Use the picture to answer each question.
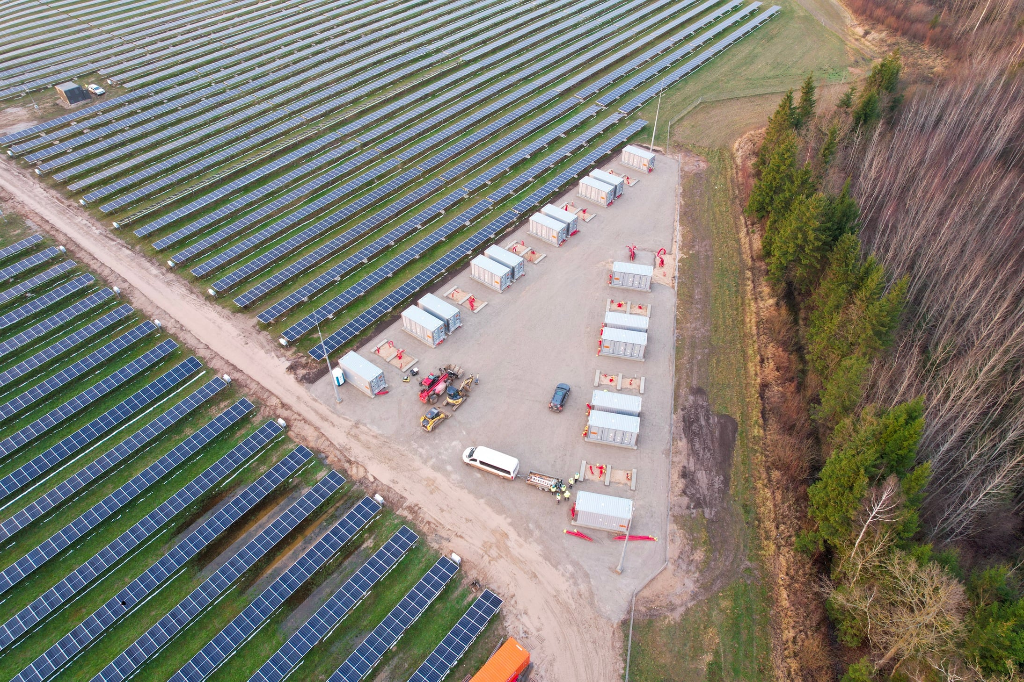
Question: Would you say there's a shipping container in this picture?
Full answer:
Yes, there's a shipping container here.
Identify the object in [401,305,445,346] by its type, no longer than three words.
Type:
shipping container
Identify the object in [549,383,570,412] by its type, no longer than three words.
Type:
car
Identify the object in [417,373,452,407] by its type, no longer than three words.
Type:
work vehicle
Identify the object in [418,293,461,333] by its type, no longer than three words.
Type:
shipping container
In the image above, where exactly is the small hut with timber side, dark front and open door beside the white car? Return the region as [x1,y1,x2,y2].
[57,81,90,104]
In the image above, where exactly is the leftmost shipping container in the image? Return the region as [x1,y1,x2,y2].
[338,351,386,396]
